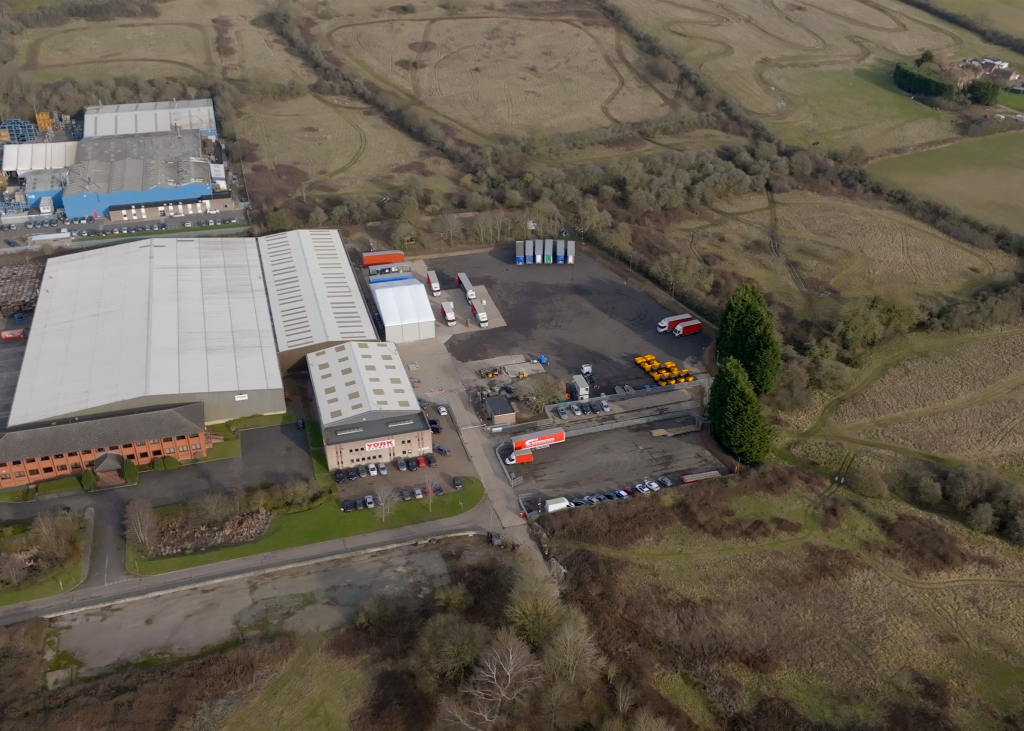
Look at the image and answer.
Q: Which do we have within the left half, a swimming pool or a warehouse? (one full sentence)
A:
The feature located within the left half is a warehouse.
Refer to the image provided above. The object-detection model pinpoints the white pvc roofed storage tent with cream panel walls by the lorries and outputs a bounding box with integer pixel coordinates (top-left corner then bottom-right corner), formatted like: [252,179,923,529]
[367,275,438,342]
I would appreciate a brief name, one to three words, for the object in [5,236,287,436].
warehouse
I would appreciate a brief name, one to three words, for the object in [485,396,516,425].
shed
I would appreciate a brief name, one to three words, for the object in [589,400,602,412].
vehicle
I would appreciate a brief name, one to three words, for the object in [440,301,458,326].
vehicle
